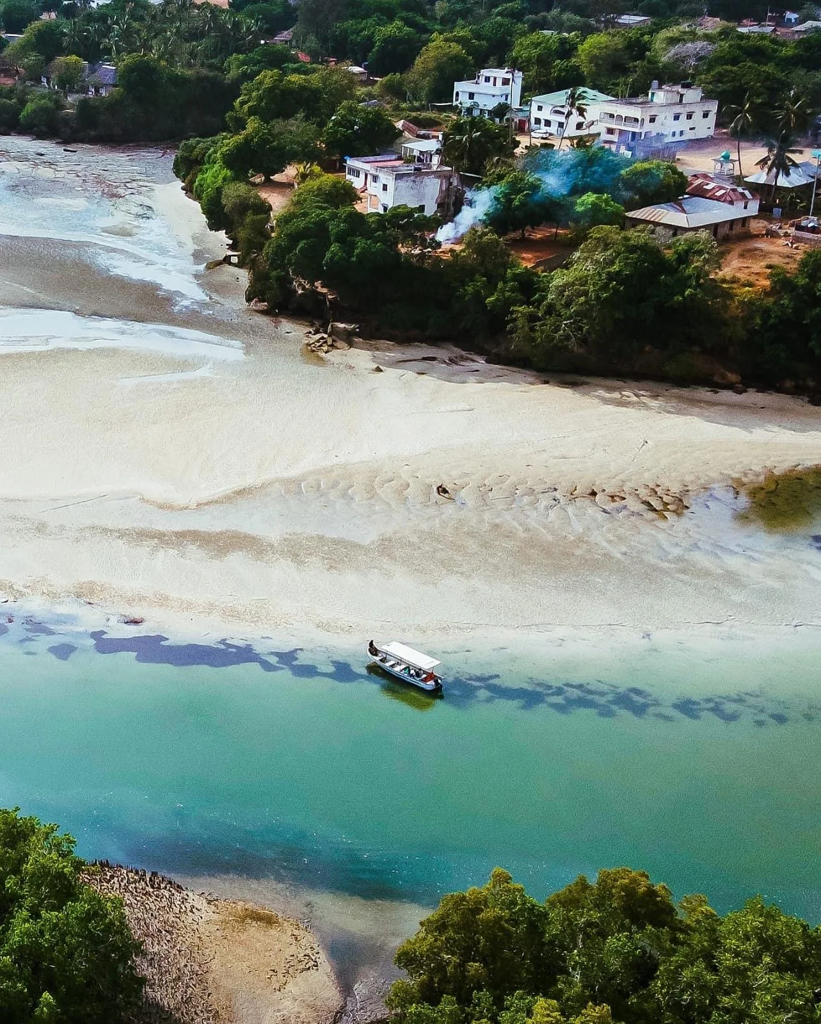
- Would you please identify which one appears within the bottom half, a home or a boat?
boat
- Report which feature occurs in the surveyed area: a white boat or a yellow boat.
white boat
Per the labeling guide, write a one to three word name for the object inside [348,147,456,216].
house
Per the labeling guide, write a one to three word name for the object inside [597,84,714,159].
house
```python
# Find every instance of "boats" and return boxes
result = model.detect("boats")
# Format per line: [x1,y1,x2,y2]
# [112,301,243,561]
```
[365,641,440,692]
